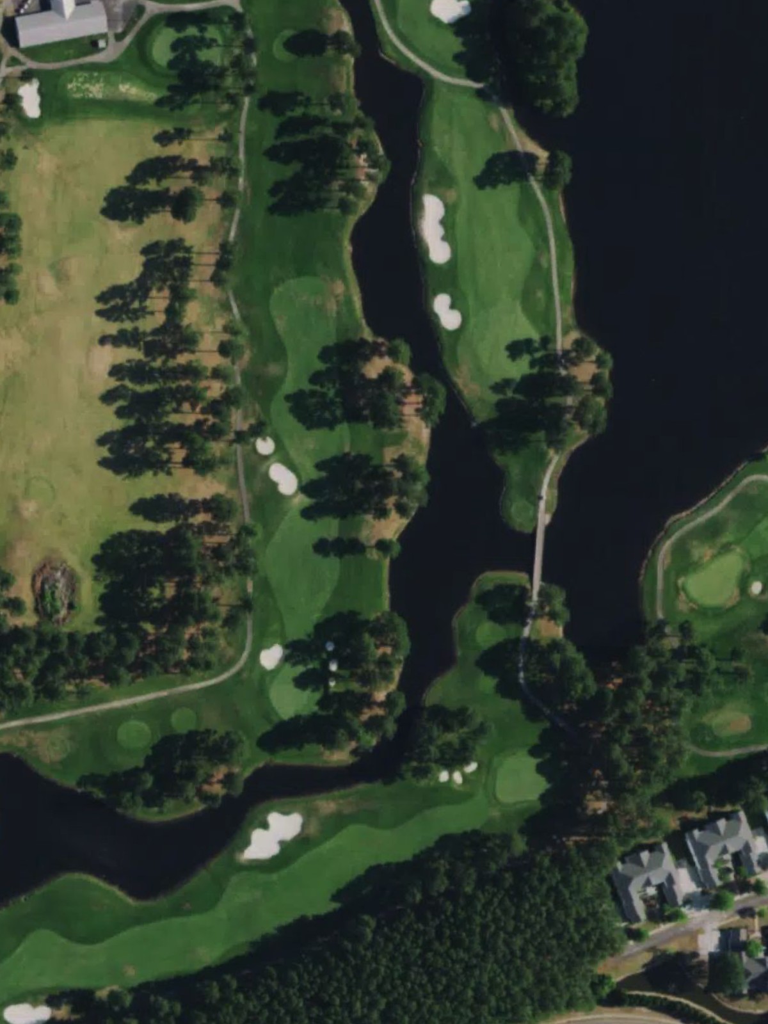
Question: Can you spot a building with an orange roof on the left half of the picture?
No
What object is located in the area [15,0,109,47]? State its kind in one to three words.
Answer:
building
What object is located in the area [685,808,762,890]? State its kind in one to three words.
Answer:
house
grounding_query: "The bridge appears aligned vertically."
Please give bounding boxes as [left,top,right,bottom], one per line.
[530,493,547,608]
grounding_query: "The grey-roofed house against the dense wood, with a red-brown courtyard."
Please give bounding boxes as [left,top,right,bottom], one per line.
[614,845,687,924]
